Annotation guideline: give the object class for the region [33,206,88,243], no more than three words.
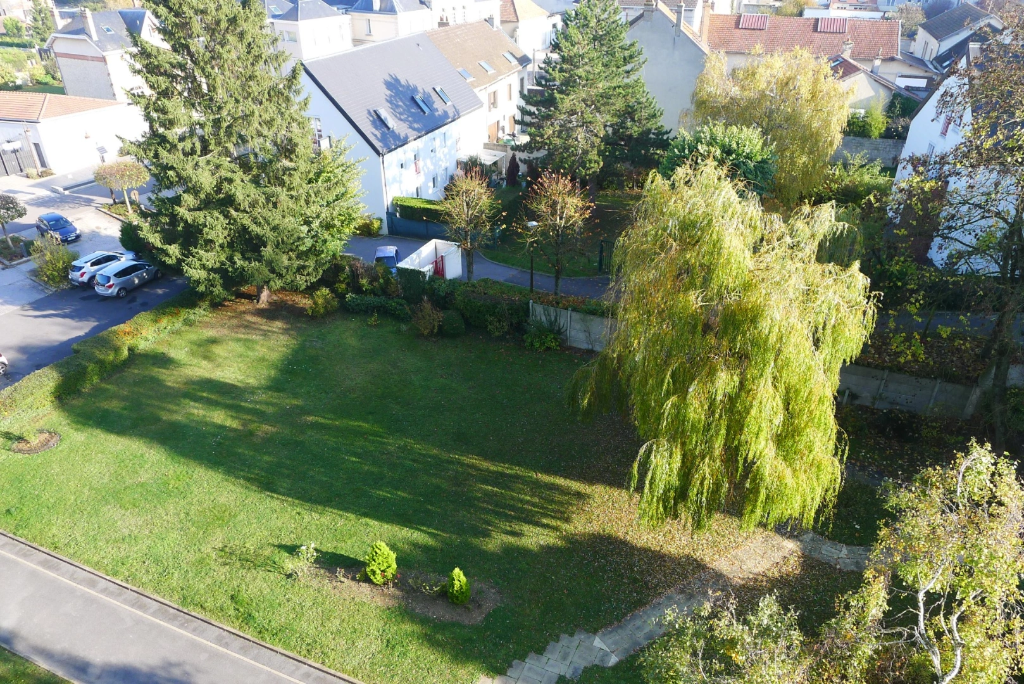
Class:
car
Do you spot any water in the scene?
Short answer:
No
